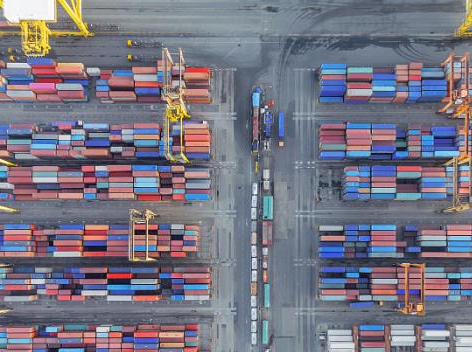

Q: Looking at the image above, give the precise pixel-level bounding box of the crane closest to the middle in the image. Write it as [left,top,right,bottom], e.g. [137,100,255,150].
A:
[163,98,194,168]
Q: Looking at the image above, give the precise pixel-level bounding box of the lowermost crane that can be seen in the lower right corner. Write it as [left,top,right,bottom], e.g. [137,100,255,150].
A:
[388,262,425,321]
